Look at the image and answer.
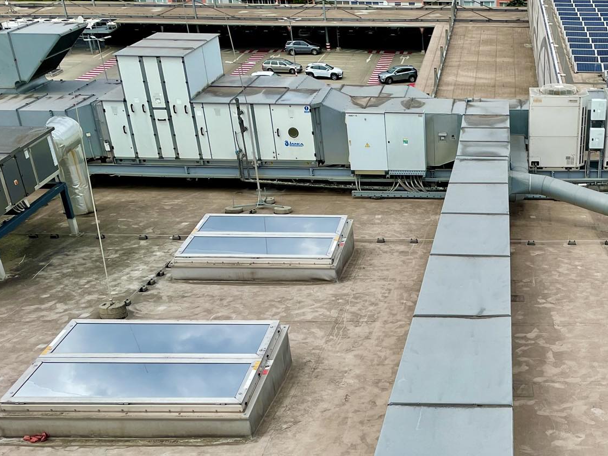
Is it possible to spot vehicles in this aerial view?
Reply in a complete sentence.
Yes, the image includes a vehicle.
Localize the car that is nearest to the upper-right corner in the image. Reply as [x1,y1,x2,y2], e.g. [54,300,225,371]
[401,27,418,41]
